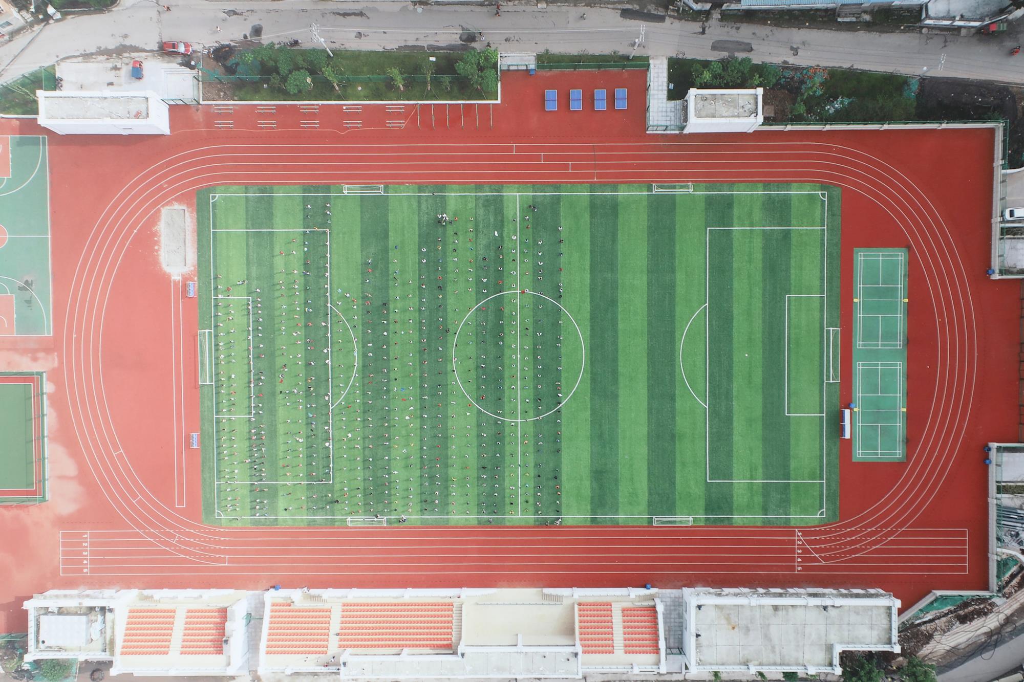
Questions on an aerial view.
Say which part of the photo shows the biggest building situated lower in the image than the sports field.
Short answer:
bottom right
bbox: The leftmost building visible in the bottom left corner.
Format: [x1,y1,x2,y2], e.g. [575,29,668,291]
[27,589,127,659]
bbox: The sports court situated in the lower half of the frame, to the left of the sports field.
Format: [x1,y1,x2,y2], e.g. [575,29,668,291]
[0,372,49,506]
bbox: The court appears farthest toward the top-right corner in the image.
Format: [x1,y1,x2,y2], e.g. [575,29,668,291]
[853,248,908,355]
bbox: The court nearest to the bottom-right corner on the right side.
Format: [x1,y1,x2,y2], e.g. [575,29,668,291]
[853,355,907,462]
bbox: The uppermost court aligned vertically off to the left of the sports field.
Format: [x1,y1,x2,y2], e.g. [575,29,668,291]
[0,135,52,336]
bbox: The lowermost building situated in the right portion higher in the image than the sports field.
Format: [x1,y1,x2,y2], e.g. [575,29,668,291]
[681,86,765,132]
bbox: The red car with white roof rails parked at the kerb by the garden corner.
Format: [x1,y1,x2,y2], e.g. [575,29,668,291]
[162,39,193,56]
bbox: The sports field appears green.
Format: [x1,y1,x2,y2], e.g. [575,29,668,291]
[196,183,841,526]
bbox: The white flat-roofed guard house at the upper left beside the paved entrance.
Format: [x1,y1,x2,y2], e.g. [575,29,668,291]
[34,89,170,134]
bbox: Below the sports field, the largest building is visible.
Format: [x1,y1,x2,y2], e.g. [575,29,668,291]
[679,588,899,672]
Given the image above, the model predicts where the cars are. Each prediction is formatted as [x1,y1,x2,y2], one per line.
[162,39,193,56]
[1002,207,1024,222]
